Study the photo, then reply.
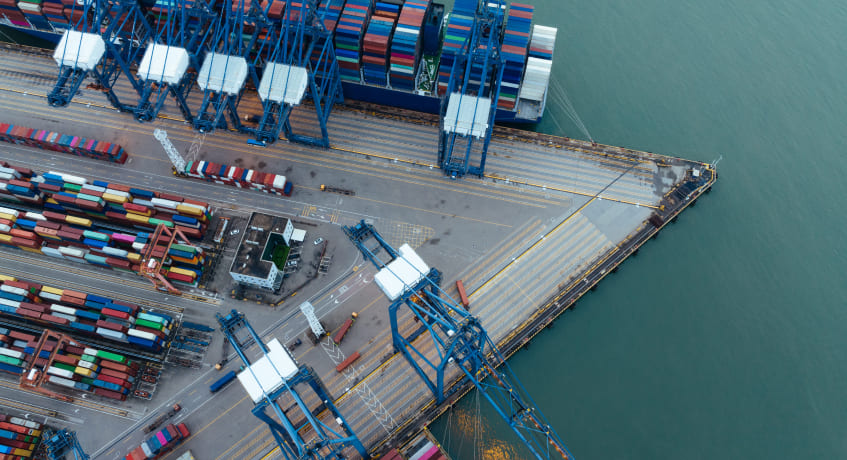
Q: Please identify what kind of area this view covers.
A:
port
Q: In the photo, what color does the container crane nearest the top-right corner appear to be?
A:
blue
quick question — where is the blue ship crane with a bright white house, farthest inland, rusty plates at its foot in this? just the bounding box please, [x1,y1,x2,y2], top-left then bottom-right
[42,0,148,112]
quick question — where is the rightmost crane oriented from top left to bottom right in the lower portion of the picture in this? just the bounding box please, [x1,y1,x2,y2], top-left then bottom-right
[337,210,583,460]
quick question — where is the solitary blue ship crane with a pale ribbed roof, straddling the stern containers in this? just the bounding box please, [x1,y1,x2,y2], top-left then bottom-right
[434,0,504,179]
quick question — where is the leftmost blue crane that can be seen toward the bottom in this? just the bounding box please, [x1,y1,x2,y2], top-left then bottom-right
[32,414,91,460]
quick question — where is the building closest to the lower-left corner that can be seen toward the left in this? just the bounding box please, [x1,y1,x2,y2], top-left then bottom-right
[229,211,294,294]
